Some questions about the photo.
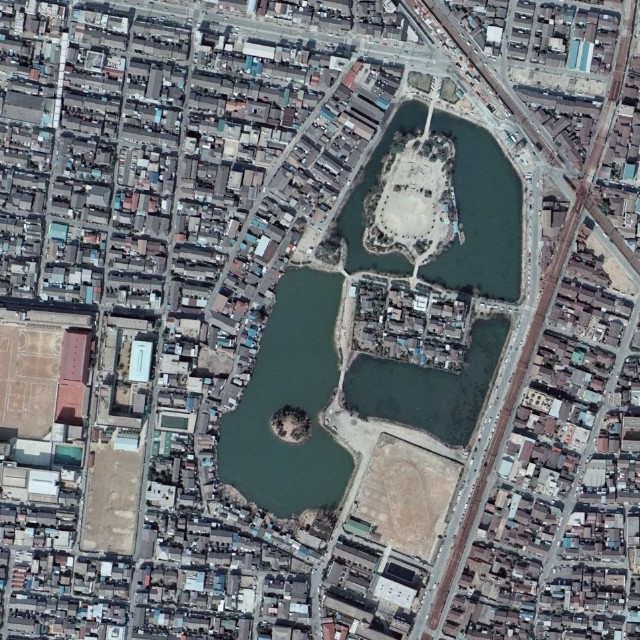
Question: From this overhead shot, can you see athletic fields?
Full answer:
Yes, there's an athletic field here.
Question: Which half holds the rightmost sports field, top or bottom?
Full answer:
The rightmost sports field sits in the bottom half of the picture.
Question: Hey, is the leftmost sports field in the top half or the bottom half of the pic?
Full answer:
Seen from above, the leftmost sports field lies in the bottom half of the view.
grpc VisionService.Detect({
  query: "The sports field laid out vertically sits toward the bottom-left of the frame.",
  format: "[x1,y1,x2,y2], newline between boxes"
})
[81,438,143,553]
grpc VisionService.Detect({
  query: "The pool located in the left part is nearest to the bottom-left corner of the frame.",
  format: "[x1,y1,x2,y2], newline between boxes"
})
[52,442,84,468]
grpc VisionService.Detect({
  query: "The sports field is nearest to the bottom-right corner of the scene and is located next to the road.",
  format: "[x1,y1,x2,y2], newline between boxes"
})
[351,433,463,562]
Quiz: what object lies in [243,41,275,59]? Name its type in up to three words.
shed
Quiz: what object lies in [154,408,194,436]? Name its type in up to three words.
swimming pool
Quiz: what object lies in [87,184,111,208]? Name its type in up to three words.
house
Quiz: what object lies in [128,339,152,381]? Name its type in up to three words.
building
